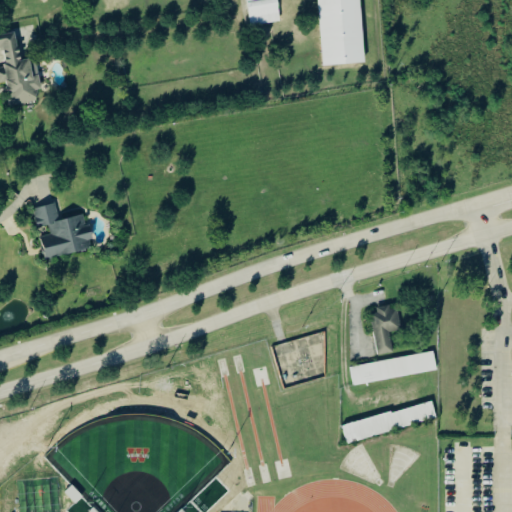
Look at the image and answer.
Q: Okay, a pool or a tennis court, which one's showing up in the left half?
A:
pool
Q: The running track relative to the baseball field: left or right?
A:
to the right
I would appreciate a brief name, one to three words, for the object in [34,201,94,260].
house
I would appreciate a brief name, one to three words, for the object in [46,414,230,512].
baseball field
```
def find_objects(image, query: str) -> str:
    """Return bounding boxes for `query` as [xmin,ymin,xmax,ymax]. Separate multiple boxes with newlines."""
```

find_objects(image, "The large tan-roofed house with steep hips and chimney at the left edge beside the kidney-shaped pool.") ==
[0,29,42,106]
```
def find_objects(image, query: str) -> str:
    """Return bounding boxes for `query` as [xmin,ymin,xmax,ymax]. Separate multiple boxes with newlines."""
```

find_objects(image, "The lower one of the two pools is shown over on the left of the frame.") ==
[88,211,110,246]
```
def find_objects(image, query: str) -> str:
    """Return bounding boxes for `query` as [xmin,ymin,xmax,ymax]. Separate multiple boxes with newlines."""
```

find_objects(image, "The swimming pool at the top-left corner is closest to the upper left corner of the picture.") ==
[41,60,66,91]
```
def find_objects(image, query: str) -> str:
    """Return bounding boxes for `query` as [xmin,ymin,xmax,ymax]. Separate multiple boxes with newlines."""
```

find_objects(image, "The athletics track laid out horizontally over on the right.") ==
[258,478,400,512]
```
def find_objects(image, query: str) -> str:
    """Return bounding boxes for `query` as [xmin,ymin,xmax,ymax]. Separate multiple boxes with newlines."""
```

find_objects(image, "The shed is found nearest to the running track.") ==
[342,402,436,443]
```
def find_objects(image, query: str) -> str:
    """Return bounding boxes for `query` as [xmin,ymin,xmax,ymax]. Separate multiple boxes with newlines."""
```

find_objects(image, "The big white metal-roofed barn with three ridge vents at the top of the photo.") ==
[316,0,365,64]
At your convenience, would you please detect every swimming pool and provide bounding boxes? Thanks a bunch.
[88,211,110,246]
[41,60,66,91]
